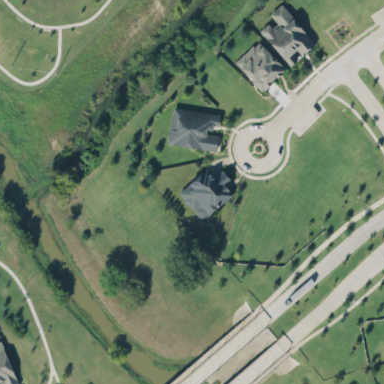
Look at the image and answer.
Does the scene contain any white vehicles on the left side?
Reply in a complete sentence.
No, no white vehicle can be made out on the left side.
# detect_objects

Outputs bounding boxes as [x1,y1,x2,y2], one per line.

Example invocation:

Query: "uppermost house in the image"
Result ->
[261,4,315,66]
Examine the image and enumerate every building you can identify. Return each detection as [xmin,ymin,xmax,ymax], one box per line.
[236,42,286,92]
[261,4,315,66]
[180,162,236,221]
[168,108,221,152]
[0,342,18,384]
